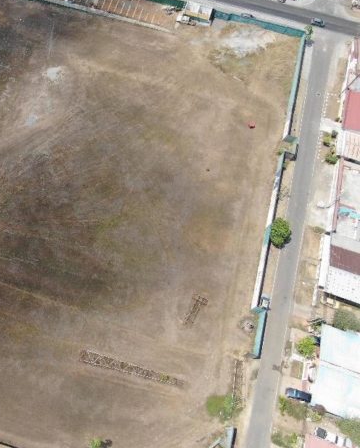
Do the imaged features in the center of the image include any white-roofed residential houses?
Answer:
No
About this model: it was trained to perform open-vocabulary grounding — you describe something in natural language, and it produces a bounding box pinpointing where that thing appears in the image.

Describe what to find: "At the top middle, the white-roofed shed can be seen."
[183,2,213,26]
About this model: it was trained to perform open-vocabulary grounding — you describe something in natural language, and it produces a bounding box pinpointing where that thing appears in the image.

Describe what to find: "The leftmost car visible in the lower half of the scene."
[259,293,273,311]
